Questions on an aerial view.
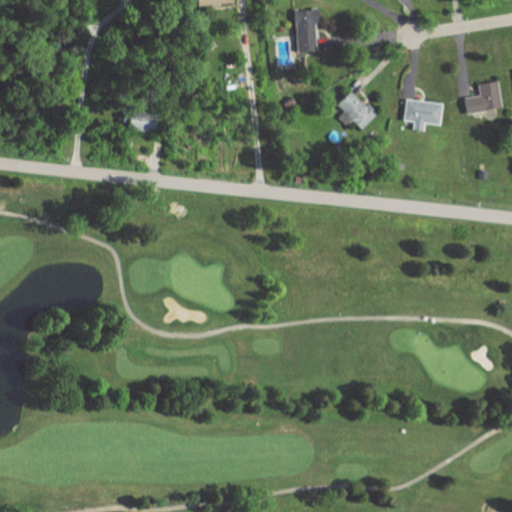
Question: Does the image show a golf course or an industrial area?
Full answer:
What you see here is a golf course.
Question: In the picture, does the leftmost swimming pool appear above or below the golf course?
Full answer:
In the image, the leftmost swimming pool appears above the golf course.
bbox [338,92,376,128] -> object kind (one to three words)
house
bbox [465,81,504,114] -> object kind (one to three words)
house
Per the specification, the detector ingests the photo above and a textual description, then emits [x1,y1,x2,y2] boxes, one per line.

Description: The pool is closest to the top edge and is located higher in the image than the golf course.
[274,34,298,66]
